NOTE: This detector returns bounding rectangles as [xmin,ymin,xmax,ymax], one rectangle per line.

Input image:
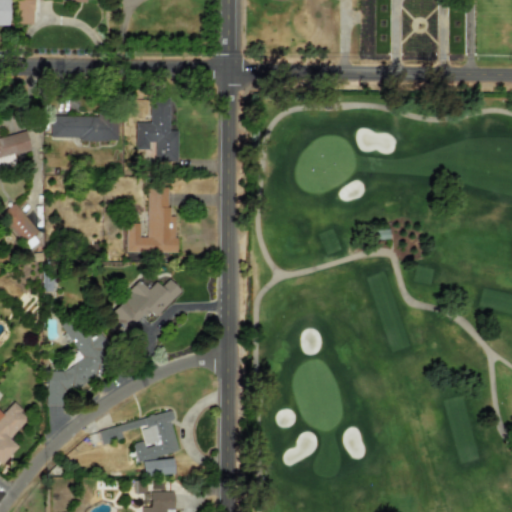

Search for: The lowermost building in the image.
[134,482,176,512]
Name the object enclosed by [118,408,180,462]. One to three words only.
house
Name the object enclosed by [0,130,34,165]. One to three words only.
house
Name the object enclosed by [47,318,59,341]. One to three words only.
swimming pool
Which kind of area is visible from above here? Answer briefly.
golf course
